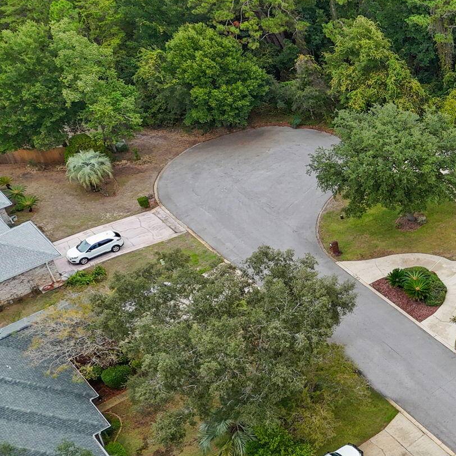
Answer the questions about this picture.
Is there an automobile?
Yes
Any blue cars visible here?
No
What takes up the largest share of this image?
trees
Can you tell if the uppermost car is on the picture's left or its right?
left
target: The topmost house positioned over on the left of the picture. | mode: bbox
[0,189,66,316]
